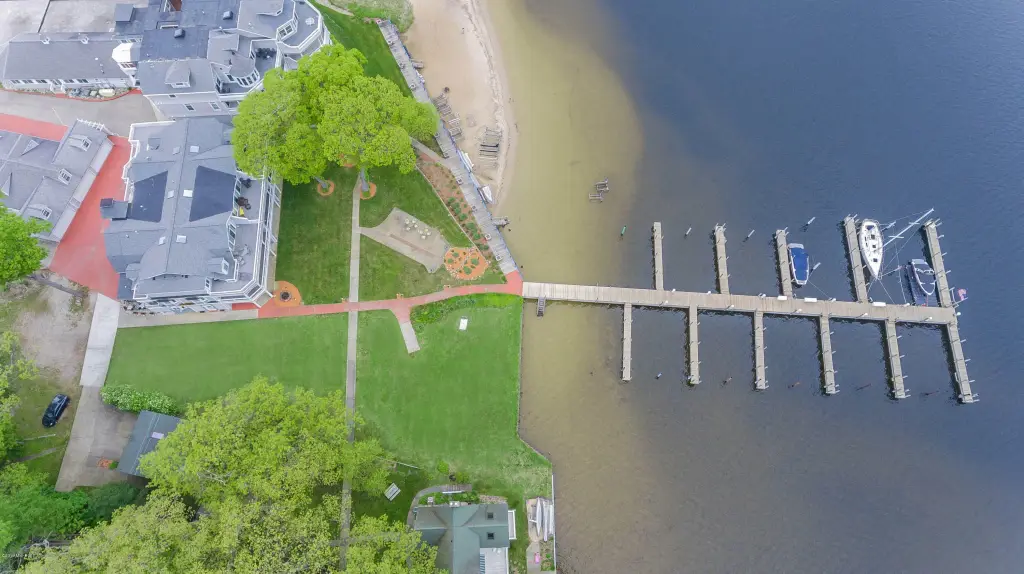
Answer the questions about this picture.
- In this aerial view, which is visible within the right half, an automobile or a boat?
boat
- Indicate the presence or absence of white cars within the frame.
No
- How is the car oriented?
at an angle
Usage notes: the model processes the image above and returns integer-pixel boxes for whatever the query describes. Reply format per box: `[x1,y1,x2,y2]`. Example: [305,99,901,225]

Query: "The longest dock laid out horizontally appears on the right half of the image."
[524,215,982,402]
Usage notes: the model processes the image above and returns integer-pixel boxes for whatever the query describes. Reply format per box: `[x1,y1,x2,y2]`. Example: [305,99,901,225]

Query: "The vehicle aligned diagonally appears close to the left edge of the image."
[40,392,71,429]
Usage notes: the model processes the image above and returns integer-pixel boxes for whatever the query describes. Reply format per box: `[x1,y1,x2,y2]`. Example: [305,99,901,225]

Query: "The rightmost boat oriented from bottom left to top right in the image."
[860,206,932,279]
